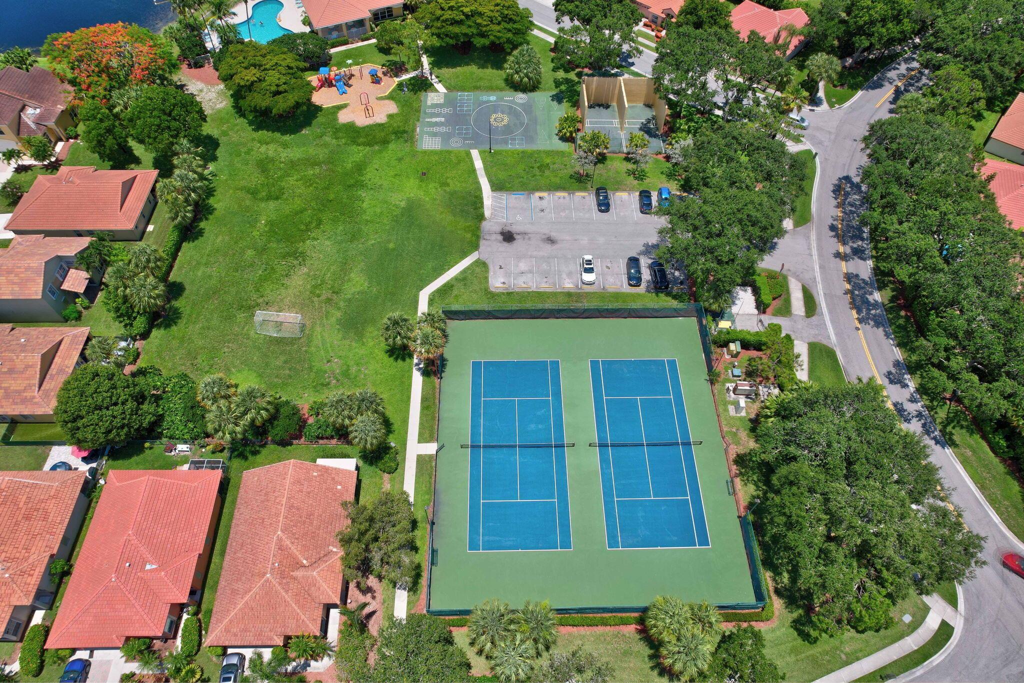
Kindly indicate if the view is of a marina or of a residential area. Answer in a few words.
residential area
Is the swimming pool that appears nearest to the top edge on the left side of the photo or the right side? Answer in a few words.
left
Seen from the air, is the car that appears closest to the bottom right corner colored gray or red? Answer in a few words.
red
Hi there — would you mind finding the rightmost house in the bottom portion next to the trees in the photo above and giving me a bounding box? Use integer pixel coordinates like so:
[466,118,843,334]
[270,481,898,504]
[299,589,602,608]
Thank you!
[203,457,358,647]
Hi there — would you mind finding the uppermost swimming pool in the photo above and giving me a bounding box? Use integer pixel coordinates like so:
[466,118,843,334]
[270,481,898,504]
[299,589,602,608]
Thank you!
[202,0,316,52]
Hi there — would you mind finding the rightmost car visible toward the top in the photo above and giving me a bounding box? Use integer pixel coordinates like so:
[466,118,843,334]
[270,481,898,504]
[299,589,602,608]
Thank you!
[785,111,813,130]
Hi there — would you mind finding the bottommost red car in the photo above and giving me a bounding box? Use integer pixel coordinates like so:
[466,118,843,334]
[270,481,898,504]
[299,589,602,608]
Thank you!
[1000,551,1024,576]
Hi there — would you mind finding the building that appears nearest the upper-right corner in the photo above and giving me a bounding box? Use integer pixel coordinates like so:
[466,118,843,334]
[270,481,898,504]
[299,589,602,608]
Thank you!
[984,90,1024,169]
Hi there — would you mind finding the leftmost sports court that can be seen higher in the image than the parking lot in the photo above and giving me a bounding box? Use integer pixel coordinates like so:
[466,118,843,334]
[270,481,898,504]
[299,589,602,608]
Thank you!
[417,92,568,149]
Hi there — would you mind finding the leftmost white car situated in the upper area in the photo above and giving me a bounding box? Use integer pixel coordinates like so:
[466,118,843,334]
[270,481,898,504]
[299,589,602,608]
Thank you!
[581,255,599,285]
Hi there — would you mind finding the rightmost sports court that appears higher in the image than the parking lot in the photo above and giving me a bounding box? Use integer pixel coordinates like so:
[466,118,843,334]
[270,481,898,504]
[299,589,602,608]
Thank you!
[583,77,666,152]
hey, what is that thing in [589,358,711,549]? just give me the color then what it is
blue tennis court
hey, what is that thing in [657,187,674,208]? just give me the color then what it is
blue car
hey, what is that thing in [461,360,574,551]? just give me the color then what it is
blue tennis court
